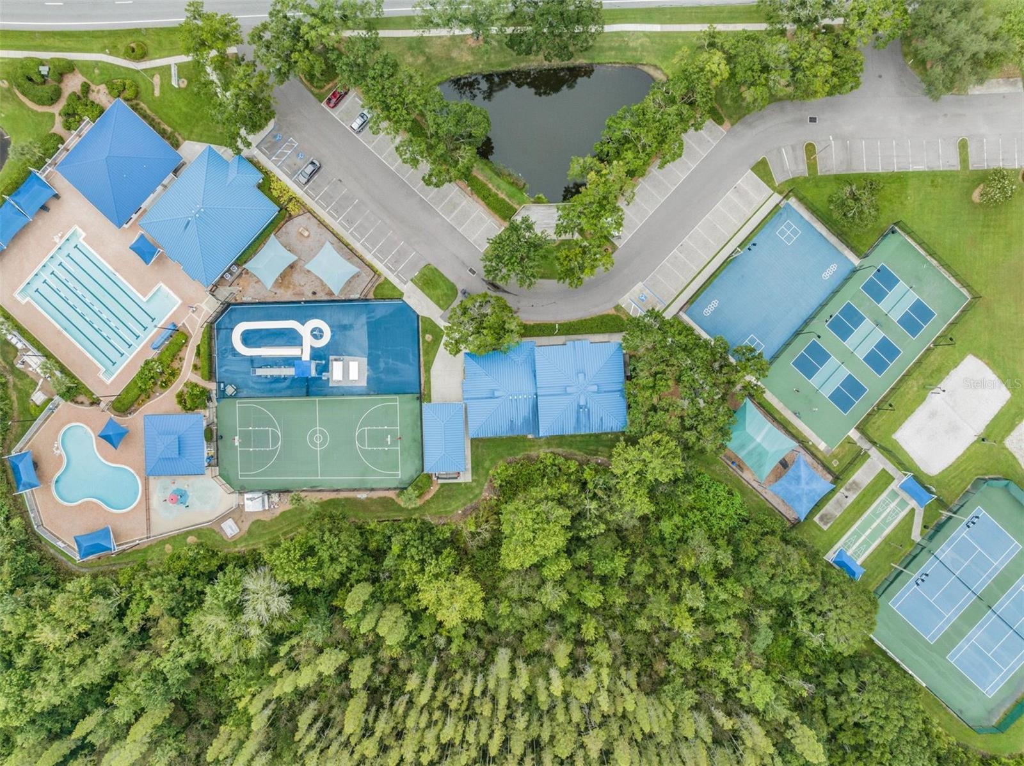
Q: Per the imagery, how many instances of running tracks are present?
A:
none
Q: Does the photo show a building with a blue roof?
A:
Yes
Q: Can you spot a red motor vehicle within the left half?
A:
Yes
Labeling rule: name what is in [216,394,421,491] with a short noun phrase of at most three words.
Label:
basketball court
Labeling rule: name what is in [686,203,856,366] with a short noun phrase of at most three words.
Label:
sports court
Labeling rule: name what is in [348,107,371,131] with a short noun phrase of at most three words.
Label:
car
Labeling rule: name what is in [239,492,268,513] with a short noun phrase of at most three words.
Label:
shed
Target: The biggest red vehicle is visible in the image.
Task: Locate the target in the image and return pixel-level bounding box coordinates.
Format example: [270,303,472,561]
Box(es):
[324,85,347,110]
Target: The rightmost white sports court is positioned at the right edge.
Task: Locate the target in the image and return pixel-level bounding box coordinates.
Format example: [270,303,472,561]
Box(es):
[1004,421,1024,468]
